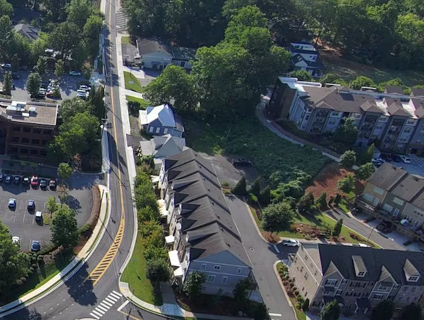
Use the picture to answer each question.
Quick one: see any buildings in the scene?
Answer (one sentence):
Yes, there's a building down there.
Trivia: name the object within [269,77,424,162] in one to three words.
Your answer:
building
